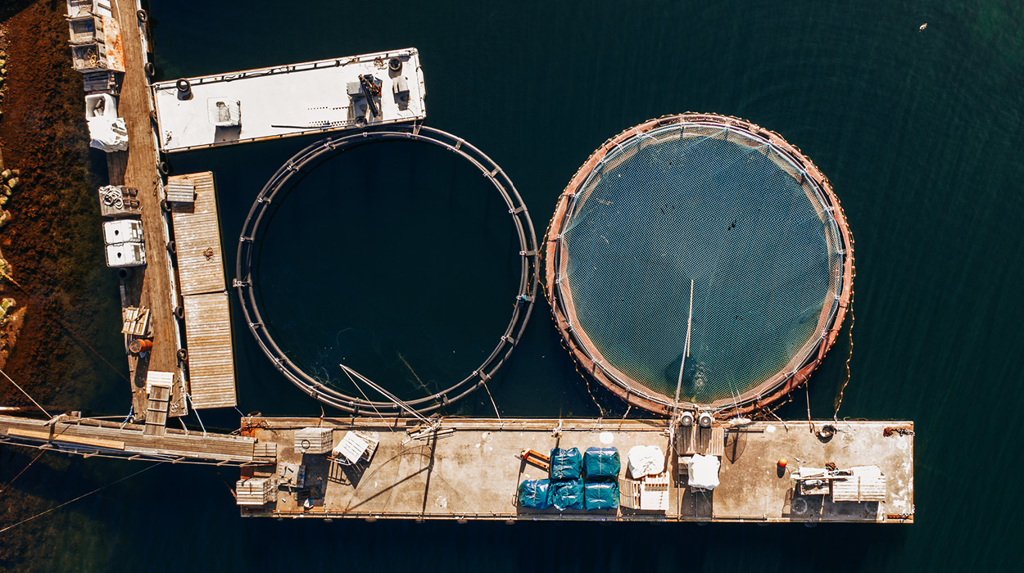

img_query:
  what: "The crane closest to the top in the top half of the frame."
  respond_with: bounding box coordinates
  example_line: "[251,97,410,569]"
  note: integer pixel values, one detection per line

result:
[352,66,388,122]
